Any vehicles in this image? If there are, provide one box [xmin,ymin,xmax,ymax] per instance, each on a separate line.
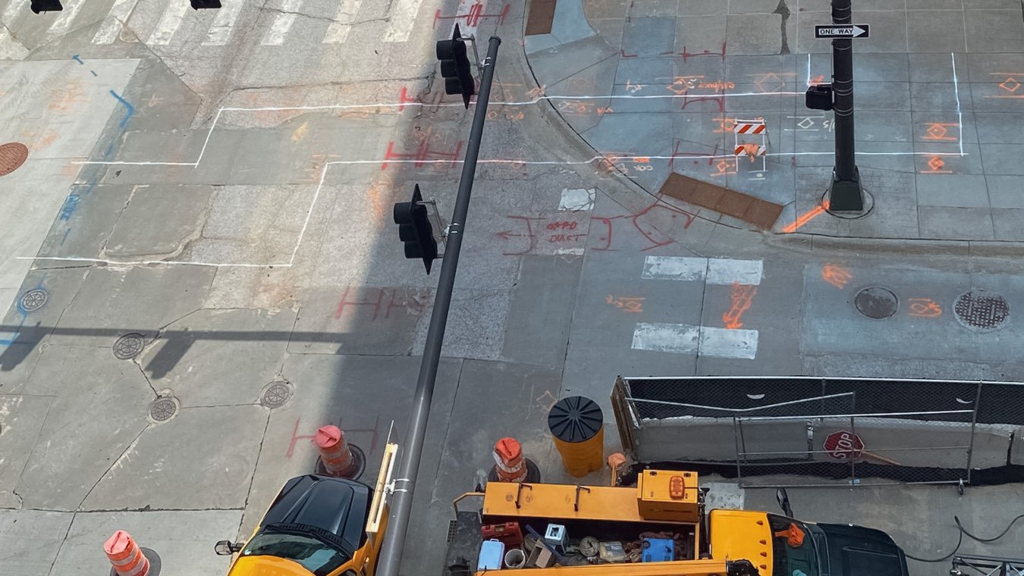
[214,468,395,576]
[435,471,921,576]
